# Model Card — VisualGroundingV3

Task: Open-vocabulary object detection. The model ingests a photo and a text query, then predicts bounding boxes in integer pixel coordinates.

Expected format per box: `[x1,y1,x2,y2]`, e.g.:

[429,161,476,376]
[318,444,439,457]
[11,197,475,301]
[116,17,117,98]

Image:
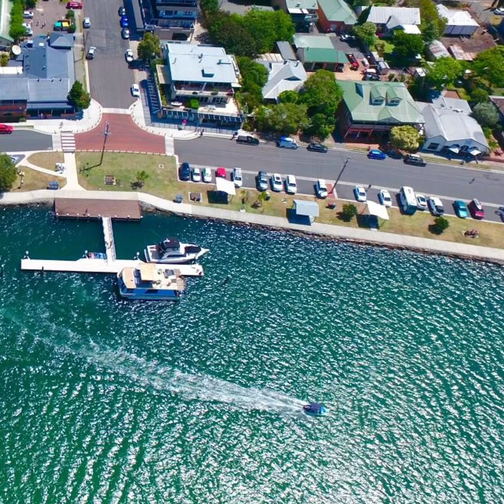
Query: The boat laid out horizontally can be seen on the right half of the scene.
[303,402,328,414]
